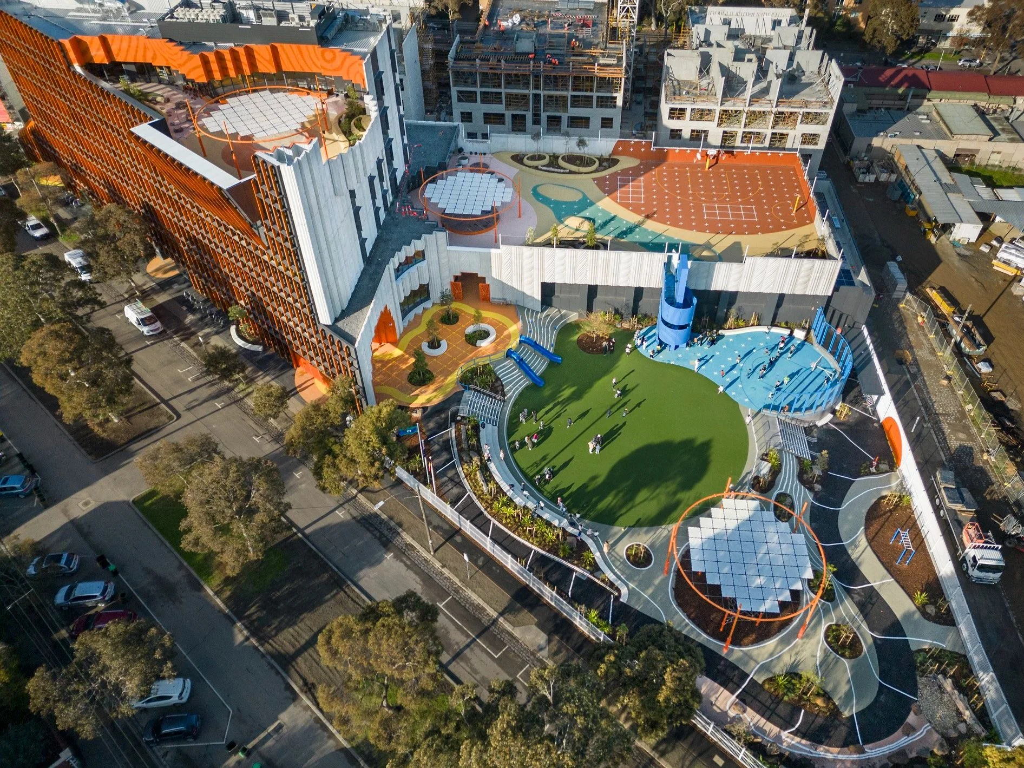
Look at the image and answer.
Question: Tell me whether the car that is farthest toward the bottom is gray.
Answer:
No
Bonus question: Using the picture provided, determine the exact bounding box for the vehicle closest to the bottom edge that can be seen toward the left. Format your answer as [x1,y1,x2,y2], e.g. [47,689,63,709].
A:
[129,715,213,757]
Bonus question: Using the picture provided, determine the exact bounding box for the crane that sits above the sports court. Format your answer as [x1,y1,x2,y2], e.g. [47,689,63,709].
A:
[619,0,645,139]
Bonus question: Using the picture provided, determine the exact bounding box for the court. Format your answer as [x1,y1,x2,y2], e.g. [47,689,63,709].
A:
[634,324,839,411]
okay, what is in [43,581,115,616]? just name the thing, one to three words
car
